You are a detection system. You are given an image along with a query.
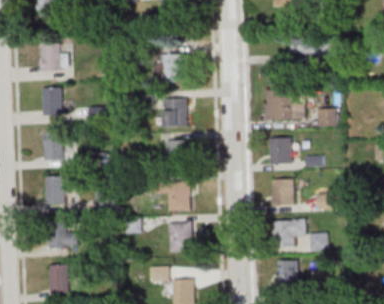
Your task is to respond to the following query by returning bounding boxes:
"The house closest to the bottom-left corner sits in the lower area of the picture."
[48,266,68,293]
